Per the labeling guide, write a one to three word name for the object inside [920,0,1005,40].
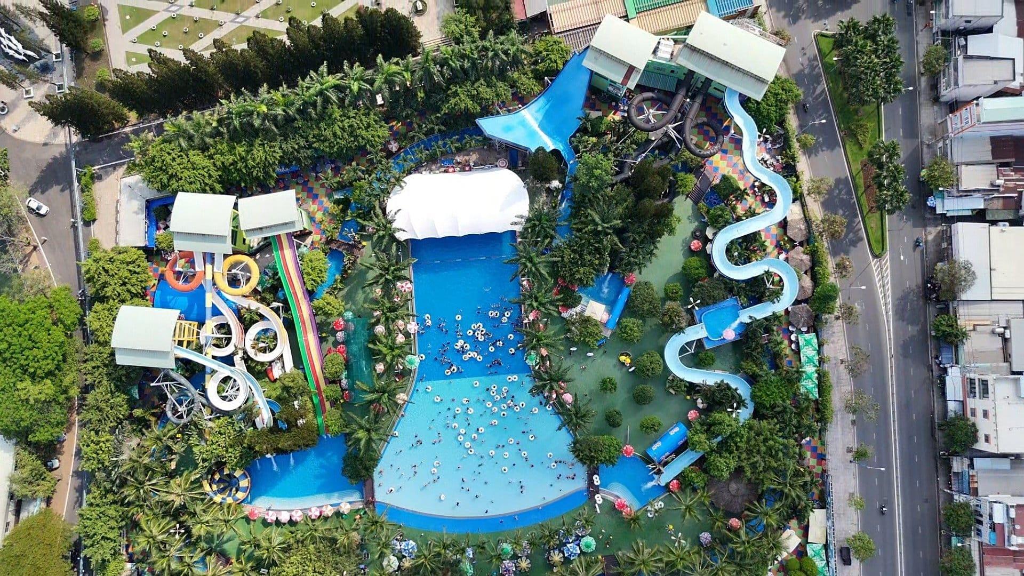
house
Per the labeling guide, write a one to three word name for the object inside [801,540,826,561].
tent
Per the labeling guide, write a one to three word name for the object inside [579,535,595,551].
umbrella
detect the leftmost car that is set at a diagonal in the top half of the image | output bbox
[24,197,46,214]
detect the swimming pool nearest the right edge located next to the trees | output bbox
[692,296,750,350]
